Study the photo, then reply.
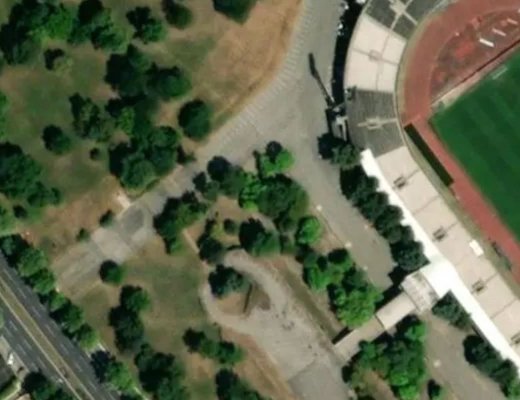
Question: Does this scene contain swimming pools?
No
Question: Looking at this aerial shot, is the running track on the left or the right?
right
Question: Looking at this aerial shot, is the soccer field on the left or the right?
right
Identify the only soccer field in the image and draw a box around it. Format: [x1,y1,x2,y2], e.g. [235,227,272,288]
[429,38,520,236]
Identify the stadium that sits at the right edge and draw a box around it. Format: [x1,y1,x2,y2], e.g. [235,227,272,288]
[336,0,520,387]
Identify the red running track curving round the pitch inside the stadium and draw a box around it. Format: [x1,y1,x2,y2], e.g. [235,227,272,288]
[403,0,520,283]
